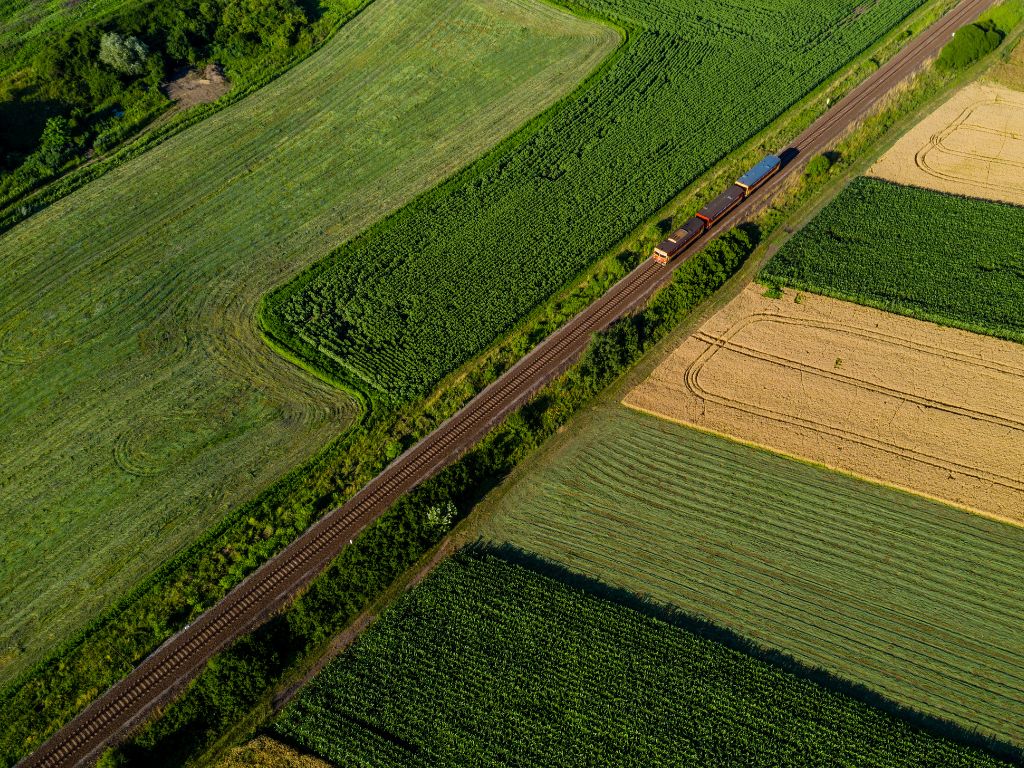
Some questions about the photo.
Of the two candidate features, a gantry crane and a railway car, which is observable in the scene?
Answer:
railway car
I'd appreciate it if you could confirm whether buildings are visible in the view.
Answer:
No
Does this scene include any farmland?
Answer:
Yes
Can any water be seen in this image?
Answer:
No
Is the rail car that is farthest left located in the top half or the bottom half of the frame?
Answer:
top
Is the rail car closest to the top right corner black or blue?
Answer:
blue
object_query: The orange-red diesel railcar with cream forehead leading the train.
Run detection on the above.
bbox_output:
[652,215,705,264]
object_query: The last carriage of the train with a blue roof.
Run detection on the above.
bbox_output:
[736,154,781,197]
